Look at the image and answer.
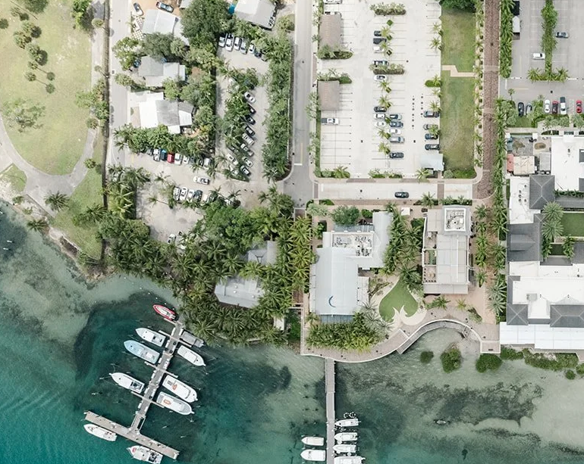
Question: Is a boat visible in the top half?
No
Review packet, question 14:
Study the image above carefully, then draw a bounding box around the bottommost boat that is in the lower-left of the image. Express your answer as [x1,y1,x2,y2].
[129,447,168,464]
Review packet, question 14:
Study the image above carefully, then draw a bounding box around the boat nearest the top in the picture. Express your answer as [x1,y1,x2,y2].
[152,304,179,322]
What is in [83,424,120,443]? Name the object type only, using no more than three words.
boat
